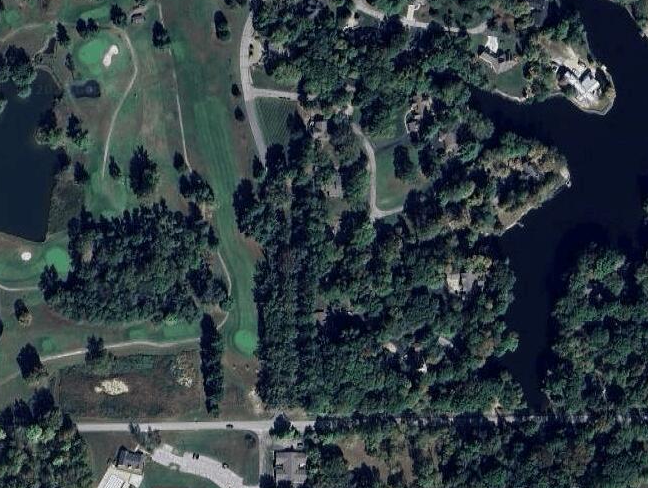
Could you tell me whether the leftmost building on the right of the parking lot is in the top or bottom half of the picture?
bottom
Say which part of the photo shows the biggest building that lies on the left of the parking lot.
bottom left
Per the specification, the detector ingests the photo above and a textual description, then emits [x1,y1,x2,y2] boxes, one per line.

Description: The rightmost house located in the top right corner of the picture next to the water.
[564,69,602,103]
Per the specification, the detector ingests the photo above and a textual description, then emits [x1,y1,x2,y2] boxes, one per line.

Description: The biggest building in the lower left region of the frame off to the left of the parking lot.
[114,448,147,473]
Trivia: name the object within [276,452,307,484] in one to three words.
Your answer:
building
